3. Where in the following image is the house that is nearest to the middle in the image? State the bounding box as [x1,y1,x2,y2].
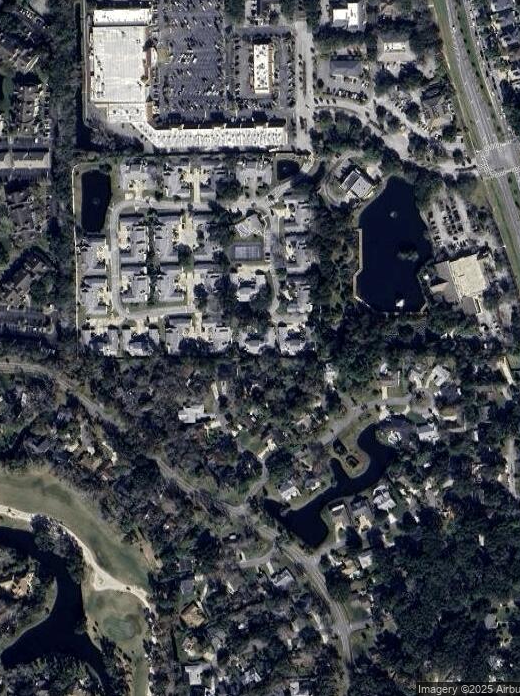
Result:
[238,328,277,354]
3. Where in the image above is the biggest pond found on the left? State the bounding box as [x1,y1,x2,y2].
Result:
[79,169,112,232]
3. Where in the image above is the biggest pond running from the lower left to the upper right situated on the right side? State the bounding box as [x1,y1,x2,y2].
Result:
[264,423,399,548]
